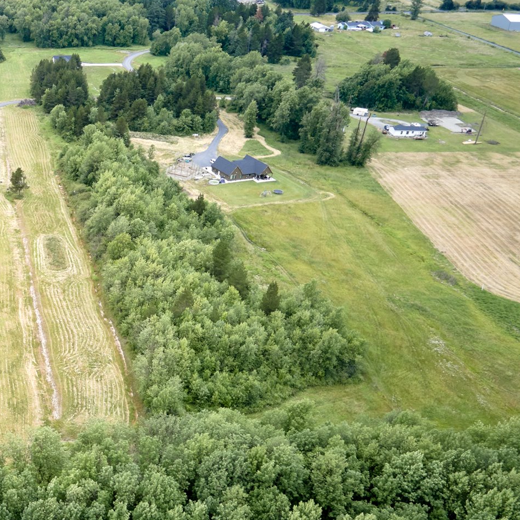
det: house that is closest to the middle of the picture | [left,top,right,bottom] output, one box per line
[210,153,274,183]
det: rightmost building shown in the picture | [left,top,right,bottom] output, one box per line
[495,13,520,31]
